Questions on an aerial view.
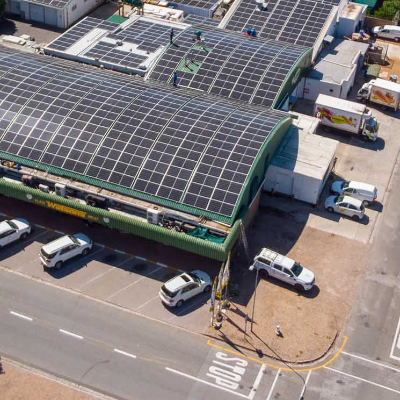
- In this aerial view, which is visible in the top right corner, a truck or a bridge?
truck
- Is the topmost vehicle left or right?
right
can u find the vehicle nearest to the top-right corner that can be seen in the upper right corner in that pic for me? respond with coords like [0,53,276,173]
[369,20,400,40]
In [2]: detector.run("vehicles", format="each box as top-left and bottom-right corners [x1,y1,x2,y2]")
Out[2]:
[355,75,400,110]
[251,246,320,290]
[369,20,400,40]
[156,265,215,305]
[311,98,381,145]
[0,218,34,249]
[330,175,381,203]
[323,193,369,219]
[36,231,97,268]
